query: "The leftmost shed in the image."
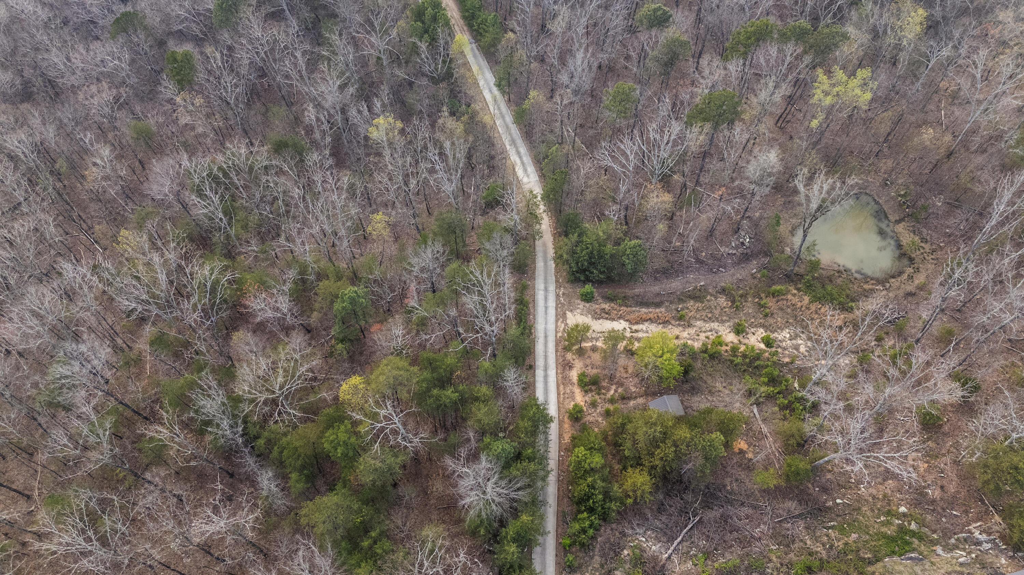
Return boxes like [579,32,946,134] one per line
[647,394,683,424]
